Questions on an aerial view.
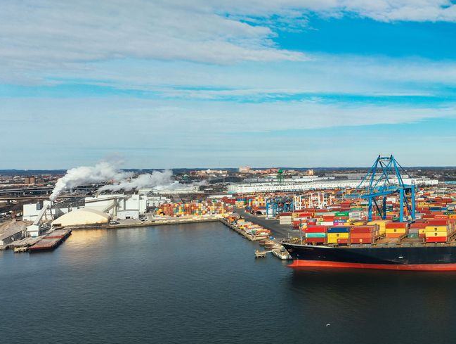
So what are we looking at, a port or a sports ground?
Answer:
port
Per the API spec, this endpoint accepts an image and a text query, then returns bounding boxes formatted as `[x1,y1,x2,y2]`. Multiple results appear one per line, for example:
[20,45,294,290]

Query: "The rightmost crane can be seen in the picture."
[356,148,419,220]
